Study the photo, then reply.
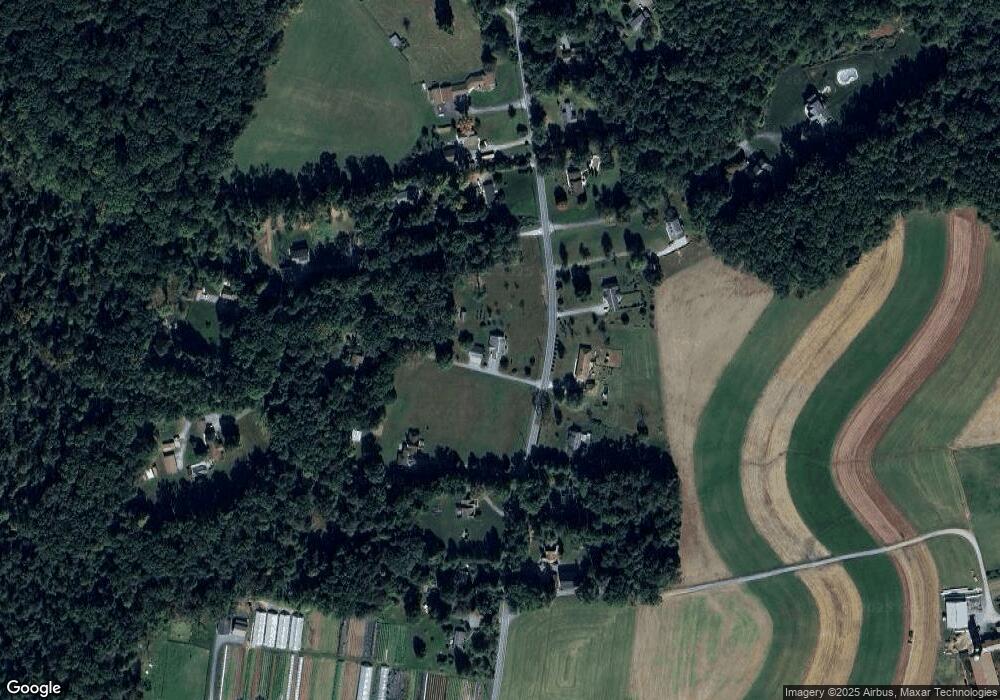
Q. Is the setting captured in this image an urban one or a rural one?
rural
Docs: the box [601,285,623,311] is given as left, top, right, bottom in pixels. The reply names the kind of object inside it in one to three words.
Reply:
house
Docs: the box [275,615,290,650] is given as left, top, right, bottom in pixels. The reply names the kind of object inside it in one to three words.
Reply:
greenhouse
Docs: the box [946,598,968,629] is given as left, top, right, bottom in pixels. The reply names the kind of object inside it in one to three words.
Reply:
barn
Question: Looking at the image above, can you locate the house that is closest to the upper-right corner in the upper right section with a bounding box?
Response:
[804,94,829,123]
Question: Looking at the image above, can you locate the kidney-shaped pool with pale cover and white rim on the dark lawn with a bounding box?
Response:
[837,67,858,85]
